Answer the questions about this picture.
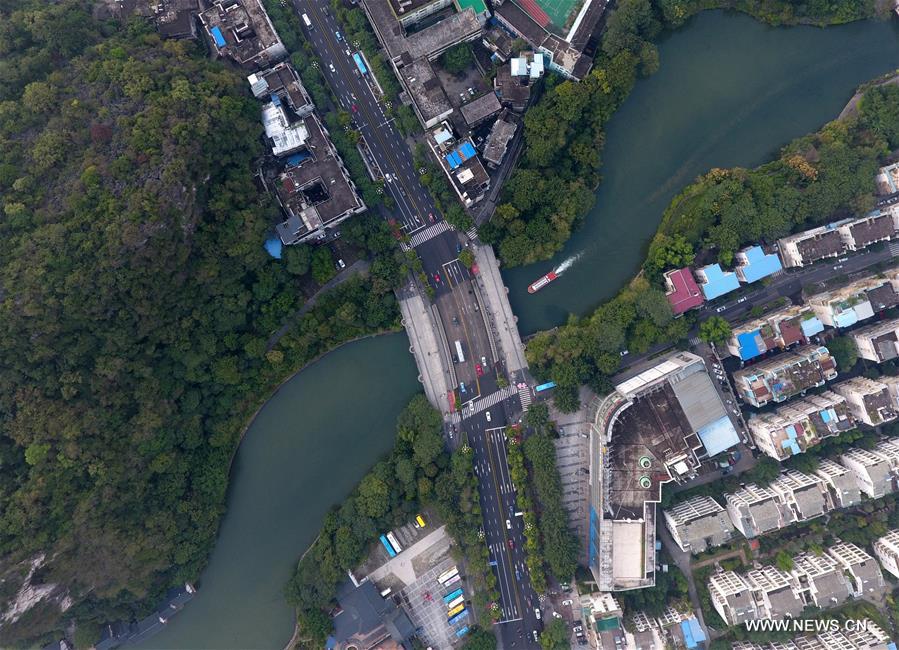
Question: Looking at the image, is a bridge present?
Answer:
Yes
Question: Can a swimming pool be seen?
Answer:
No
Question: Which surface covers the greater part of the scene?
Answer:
trees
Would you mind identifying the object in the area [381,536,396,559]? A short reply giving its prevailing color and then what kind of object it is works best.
blue vehicle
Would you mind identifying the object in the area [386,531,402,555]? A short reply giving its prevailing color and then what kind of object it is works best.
white vehicle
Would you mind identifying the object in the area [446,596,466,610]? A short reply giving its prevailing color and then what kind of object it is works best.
white vehicle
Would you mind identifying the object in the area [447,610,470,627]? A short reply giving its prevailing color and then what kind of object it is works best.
blue vehicle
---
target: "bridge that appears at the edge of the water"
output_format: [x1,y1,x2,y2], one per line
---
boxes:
[400,244,526,412]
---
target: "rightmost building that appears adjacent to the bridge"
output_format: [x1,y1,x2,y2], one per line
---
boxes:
[585,350,740,591]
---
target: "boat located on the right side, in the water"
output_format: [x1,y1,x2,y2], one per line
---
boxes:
[529,272,559,291]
